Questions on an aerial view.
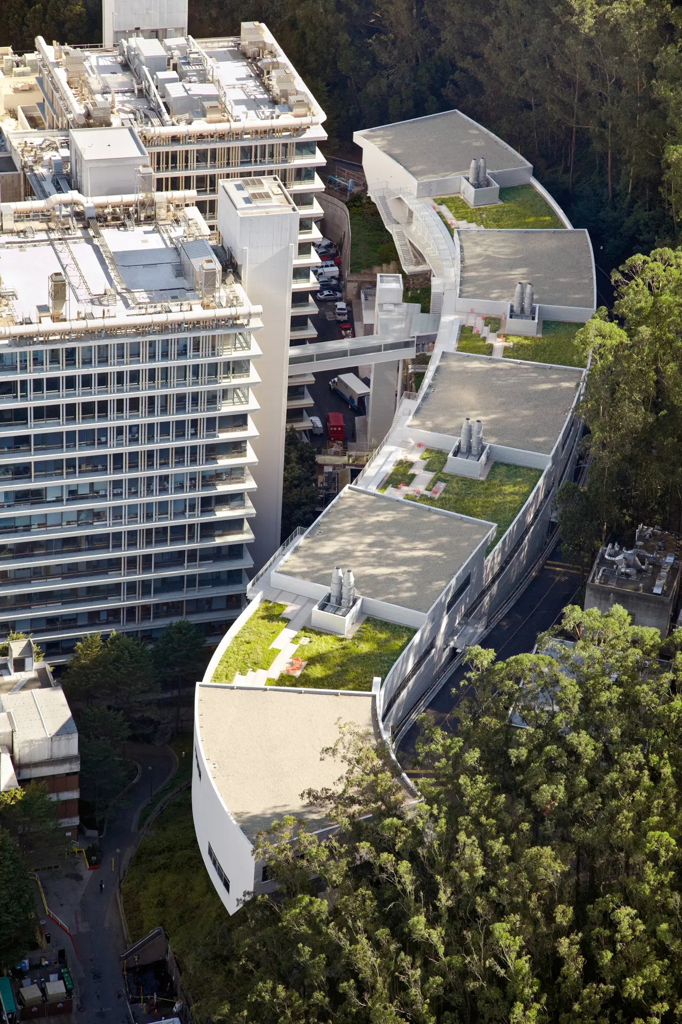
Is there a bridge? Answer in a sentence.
Yes, there's a bridge down there.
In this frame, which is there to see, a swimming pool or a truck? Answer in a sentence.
There is a truck in the scene.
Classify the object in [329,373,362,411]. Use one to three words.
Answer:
truck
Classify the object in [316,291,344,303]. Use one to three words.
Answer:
vehicle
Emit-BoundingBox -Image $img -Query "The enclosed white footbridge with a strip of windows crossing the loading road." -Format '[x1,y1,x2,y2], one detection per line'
[291,327,417,376]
